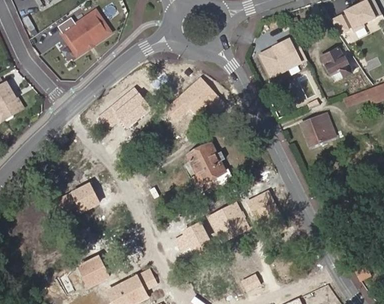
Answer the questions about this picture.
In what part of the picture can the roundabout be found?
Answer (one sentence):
The roundabout is in the top part of the image.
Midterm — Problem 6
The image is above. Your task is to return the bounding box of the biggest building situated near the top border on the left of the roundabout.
[58,9,113,58]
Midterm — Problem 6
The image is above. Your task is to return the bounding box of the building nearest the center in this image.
[186,143,227,185]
